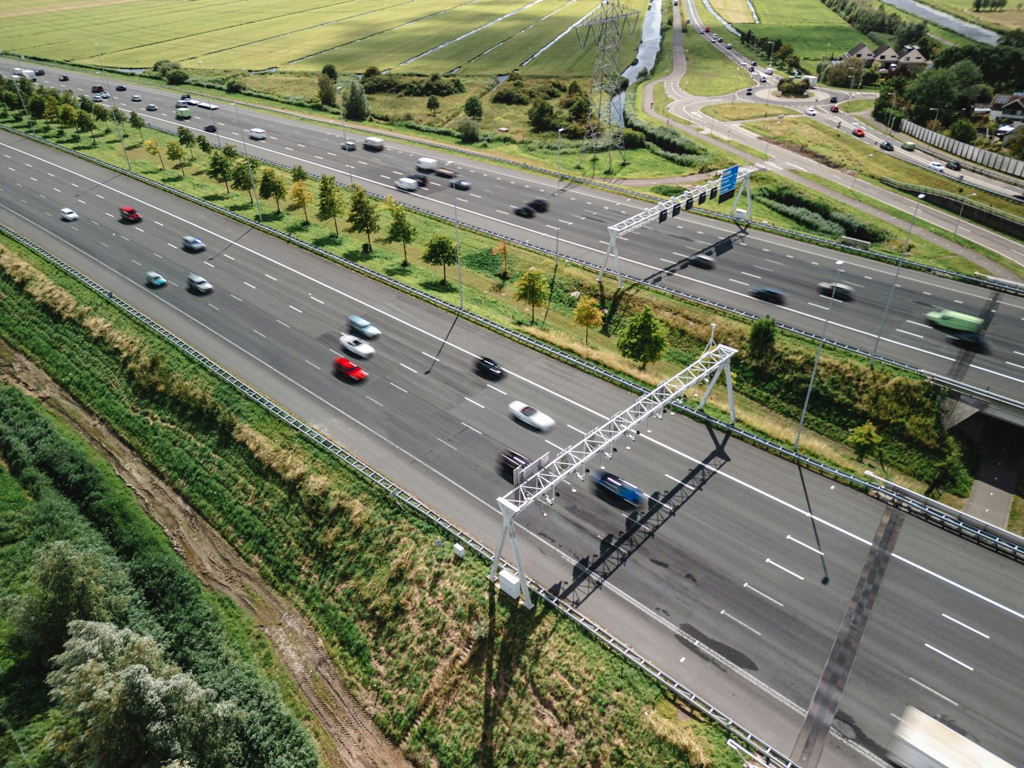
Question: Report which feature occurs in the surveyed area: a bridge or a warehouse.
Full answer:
Looking from above, you can make out a bridge.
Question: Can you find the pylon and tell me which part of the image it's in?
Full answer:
The pylon appears toward the top of the photo.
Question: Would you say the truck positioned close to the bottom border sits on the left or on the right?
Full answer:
The truck positioned close to the bottom border appears in the right half of the scene.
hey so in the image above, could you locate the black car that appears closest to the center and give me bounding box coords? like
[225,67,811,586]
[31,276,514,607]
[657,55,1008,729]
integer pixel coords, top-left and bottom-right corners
[472,355,507,380]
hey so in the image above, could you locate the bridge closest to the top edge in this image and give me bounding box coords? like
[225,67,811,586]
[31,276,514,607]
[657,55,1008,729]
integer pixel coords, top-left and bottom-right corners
[930,378,1024,468]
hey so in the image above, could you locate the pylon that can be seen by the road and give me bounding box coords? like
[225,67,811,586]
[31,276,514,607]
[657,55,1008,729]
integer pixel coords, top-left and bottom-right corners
[576,0,638,173]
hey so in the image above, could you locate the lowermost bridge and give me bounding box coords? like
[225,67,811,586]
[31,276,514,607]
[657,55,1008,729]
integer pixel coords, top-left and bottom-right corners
[858,483,1024,573]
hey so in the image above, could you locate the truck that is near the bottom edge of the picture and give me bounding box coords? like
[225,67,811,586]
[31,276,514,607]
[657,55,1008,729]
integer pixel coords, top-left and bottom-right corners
[878,709,1007,768]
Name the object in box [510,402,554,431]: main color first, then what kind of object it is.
white car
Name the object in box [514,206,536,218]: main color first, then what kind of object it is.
black vehicle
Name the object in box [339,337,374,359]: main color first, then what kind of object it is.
white car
